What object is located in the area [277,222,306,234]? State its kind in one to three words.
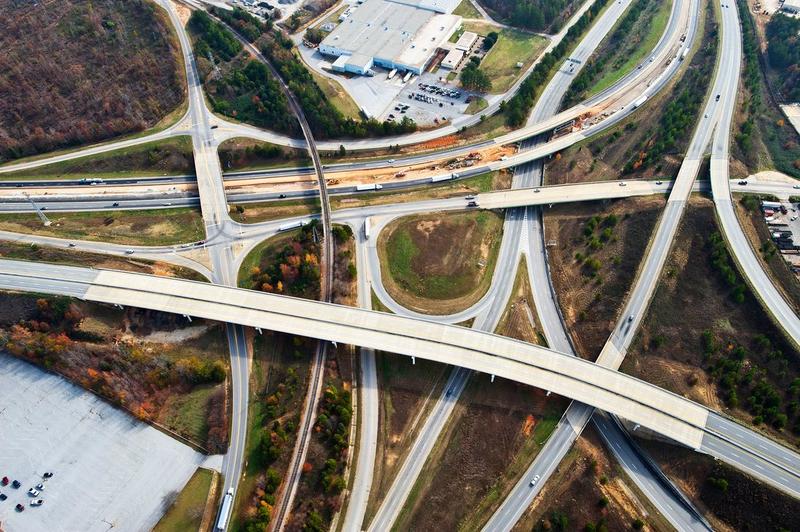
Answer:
vehicle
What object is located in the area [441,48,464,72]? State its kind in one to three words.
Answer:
building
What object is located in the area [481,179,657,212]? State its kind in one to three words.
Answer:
bridge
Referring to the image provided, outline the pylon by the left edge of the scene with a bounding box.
[20,184,53,227]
